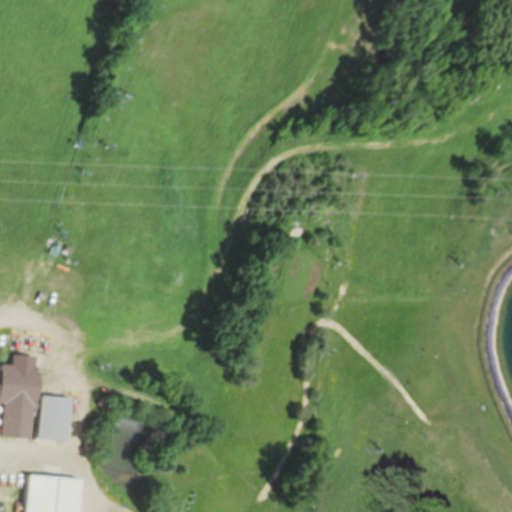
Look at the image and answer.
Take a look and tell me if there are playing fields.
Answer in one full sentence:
No, I can see no playing field in this picture.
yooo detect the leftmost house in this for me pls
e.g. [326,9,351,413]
[0,352,42,440]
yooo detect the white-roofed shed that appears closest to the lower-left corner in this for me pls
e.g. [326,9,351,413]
[26,474,84,512]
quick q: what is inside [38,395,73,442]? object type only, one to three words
shed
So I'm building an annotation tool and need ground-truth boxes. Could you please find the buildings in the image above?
[0,352,42,440]
[26,474,84,512]
[38,395,73,442]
